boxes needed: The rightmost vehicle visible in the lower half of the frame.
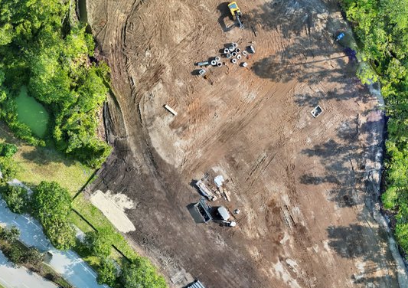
[218,207,232,222]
